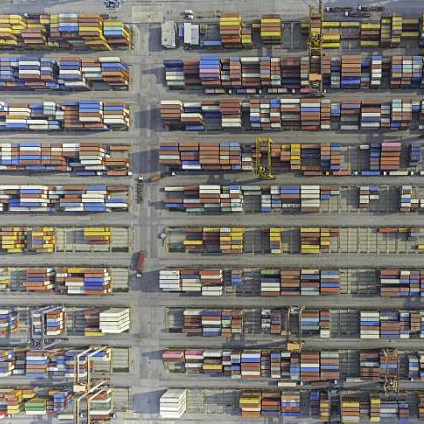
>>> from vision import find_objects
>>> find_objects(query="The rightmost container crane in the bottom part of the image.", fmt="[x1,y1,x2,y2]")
[376,346,401,397]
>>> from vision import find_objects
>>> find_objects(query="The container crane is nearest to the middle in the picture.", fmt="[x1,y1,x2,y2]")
[255,136,279,182]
